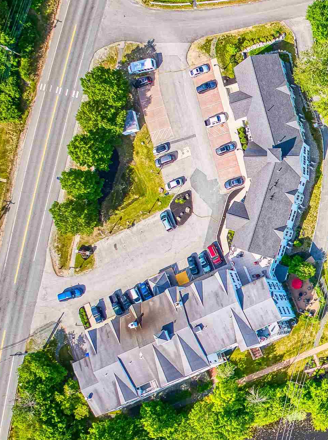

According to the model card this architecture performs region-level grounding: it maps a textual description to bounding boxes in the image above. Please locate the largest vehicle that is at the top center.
[128,57,158,75]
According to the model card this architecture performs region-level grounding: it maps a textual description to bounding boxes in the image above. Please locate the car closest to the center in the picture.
[160,209,177,232]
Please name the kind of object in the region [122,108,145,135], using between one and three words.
shed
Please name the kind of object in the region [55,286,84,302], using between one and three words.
vehicle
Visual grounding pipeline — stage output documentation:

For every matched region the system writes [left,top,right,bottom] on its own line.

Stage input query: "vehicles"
[89,302,107,324]
[185,253,201,277]
[153,153,178,168]
[206,241,223,265]
[108,293,125,317]
[55,286,84,302]
[202,113,228,127]
[223,175,247,190]
[197,251,213,275]
[138,281,153,302]
[160,209,177,232]
[214,142,238,155]
[128,285,143,303]
[119,293,132,313]
[195,79,219,93]
[128,57,158,75]
[132,75,153,88]
[163,175,187,191]
[189,63,212,77]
